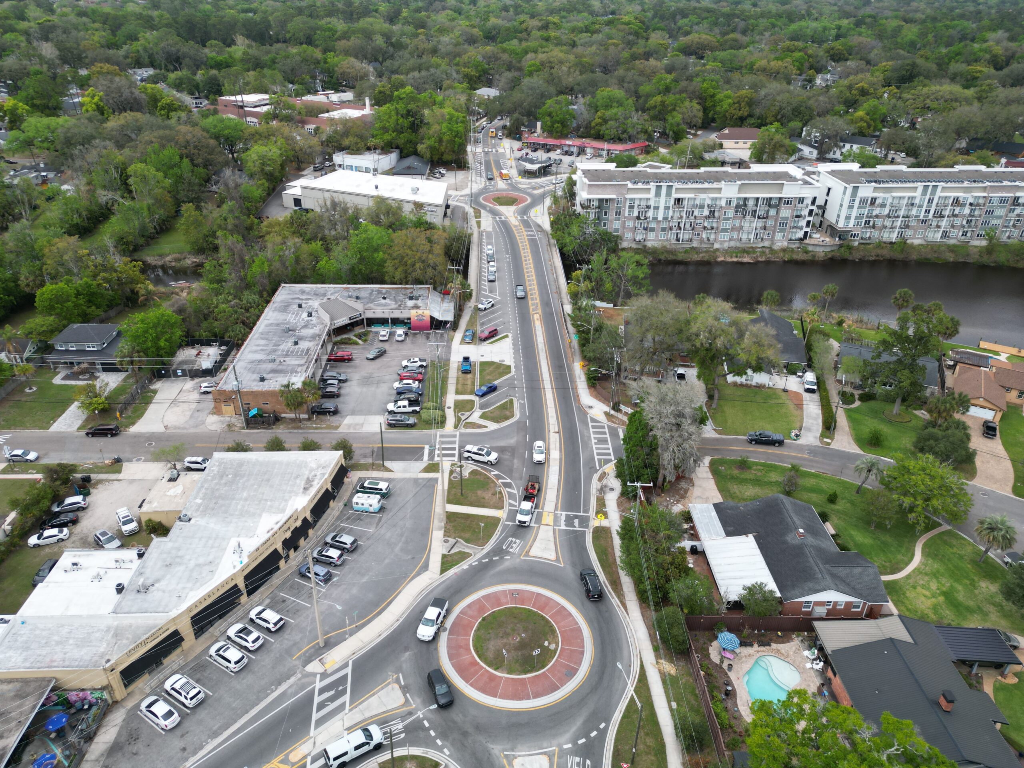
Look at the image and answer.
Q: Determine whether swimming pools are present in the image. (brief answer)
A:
Yes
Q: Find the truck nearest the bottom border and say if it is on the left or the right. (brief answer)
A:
left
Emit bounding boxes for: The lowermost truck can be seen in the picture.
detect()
[323,725,384,768]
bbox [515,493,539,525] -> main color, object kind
white truck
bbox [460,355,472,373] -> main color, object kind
blue vehicle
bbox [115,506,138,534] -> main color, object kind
white car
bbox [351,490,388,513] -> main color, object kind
white camper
